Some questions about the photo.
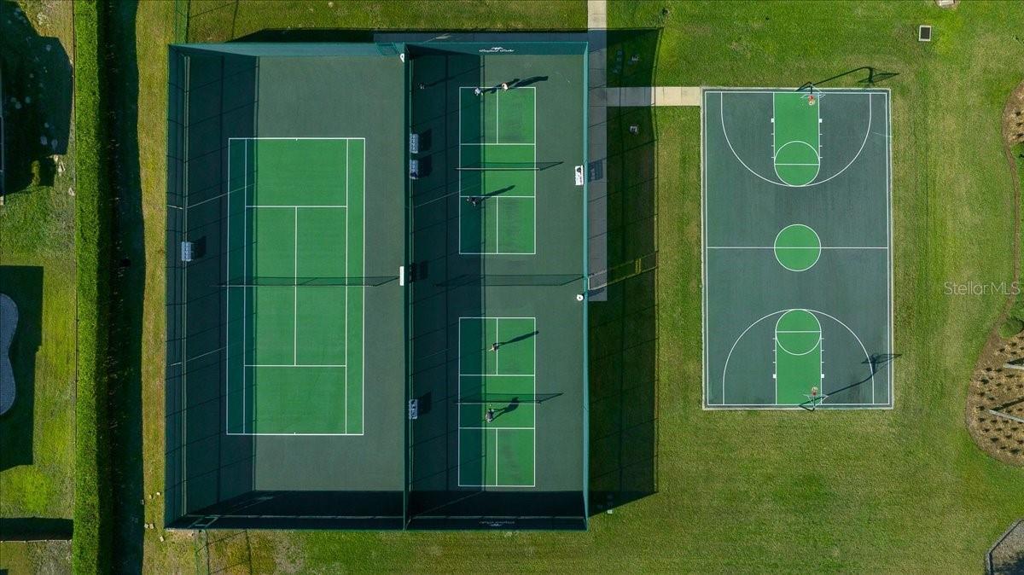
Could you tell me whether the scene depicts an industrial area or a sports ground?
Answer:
sports ground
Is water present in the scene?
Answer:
No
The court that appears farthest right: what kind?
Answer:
basketball court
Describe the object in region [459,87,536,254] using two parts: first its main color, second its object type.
green sports court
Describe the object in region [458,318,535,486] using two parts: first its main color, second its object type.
green sports court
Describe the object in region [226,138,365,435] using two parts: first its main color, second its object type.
green tennis court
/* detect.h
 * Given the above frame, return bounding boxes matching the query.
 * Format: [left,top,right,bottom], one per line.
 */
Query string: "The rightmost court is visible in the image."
[702,88,894,409]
